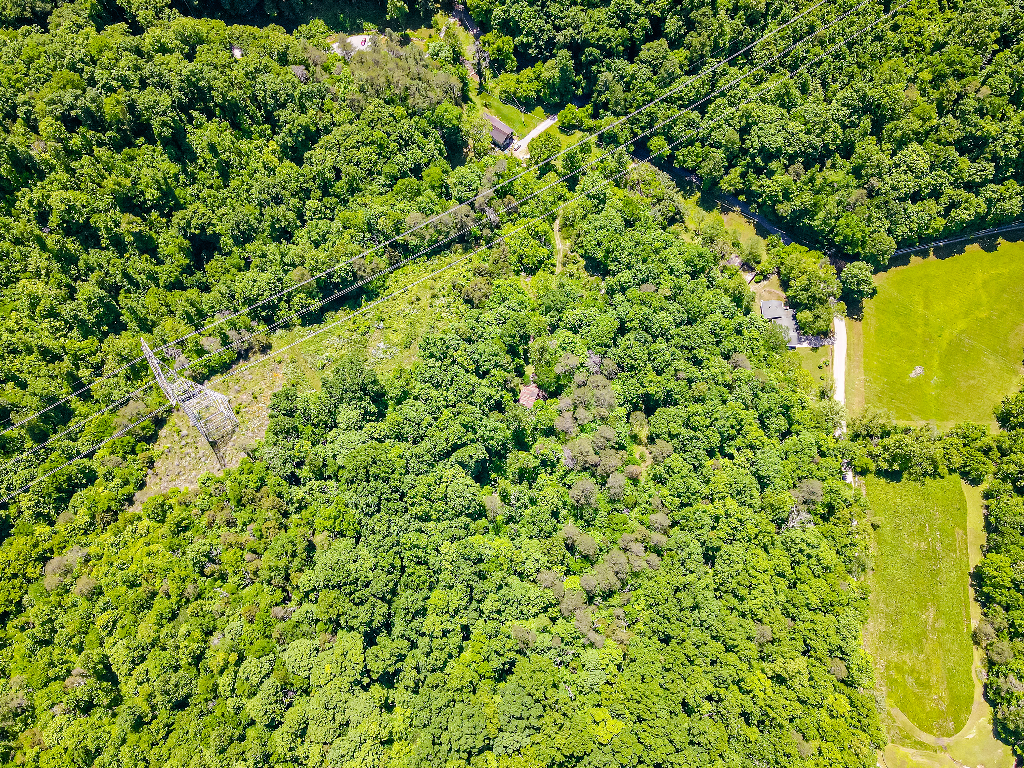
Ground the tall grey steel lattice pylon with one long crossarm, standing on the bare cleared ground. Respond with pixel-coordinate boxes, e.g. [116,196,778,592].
[143,349,237,439]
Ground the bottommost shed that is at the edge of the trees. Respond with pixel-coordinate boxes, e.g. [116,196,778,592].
[517,383,541,409]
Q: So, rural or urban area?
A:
rural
